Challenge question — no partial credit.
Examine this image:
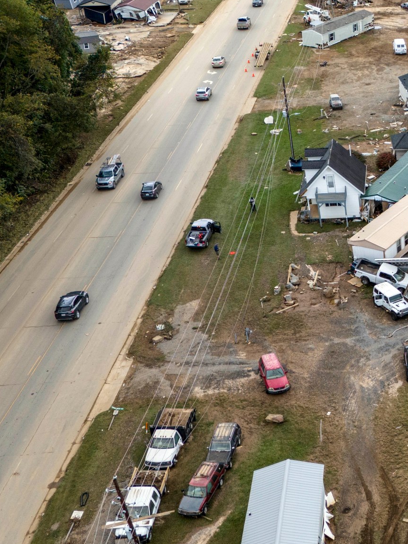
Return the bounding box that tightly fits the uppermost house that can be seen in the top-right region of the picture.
[300,9,376,51]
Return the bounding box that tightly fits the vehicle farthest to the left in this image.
[53,292,89,321]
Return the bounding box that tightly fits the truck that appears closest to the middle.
[190,220,223,249]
